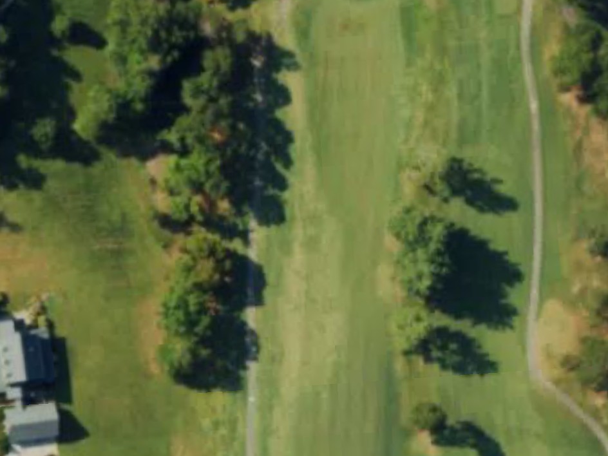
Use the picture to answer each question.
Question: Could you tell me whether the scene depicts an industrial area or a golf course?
golf course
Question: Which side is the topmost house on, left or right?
left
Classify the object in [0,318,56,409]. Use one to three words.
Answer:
house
